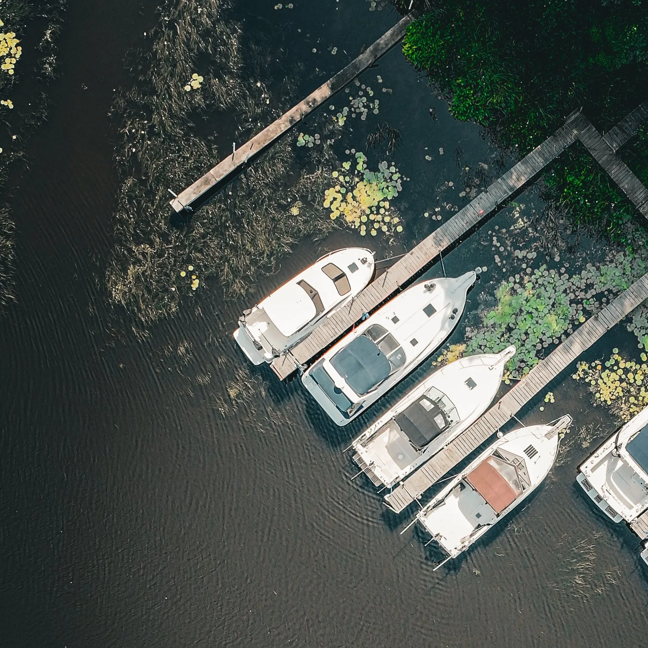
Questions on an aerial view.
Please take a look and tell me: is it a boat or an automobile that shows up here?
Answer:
boat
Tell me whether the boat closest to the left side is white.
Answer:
Yes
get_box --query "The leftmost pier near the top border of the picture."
[166,0,422,215]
